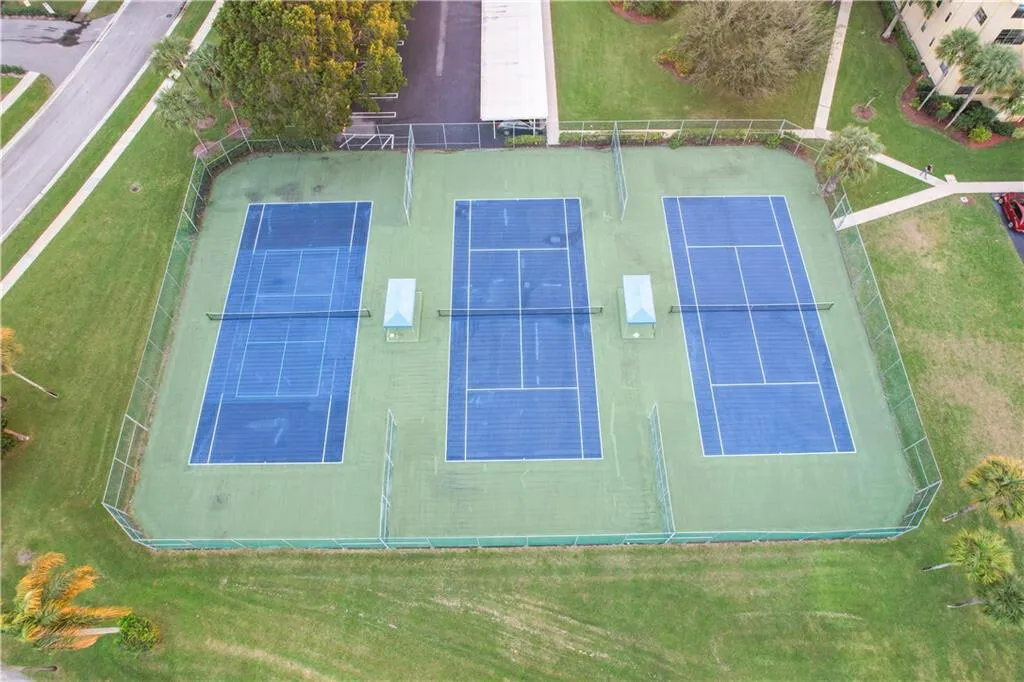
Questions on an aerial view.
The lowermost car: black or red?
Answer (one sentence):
The lowermost car looks red in the image.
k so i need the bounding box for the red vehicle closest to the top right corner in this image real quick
[999,190,1024,231]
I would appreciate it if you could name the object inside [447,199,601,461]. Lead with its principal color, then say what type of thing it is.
blue tennis court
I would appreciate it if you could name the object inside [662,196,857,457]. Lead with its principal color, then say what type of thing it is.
blue tennis court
